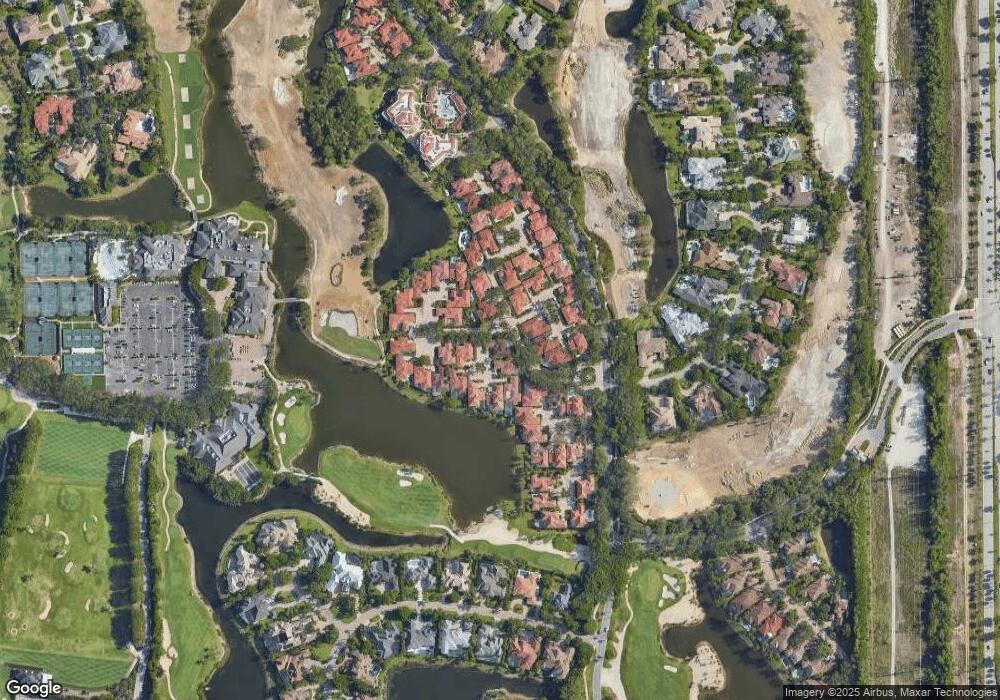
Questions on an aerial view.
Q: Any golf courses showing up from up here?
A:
Yes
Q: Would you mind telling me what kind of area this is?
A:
residential area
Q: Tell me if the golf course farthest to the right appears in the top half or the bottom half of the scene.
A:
bottom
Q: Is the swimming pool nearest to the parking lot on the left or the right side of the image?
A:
left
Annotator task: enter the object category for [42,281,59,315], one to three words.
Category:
tennis court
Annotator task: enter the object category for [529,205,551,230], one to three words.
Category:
house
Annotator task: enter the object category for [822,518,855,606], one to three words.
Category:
pond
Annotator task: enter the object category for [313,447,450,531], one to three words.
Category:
golf course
